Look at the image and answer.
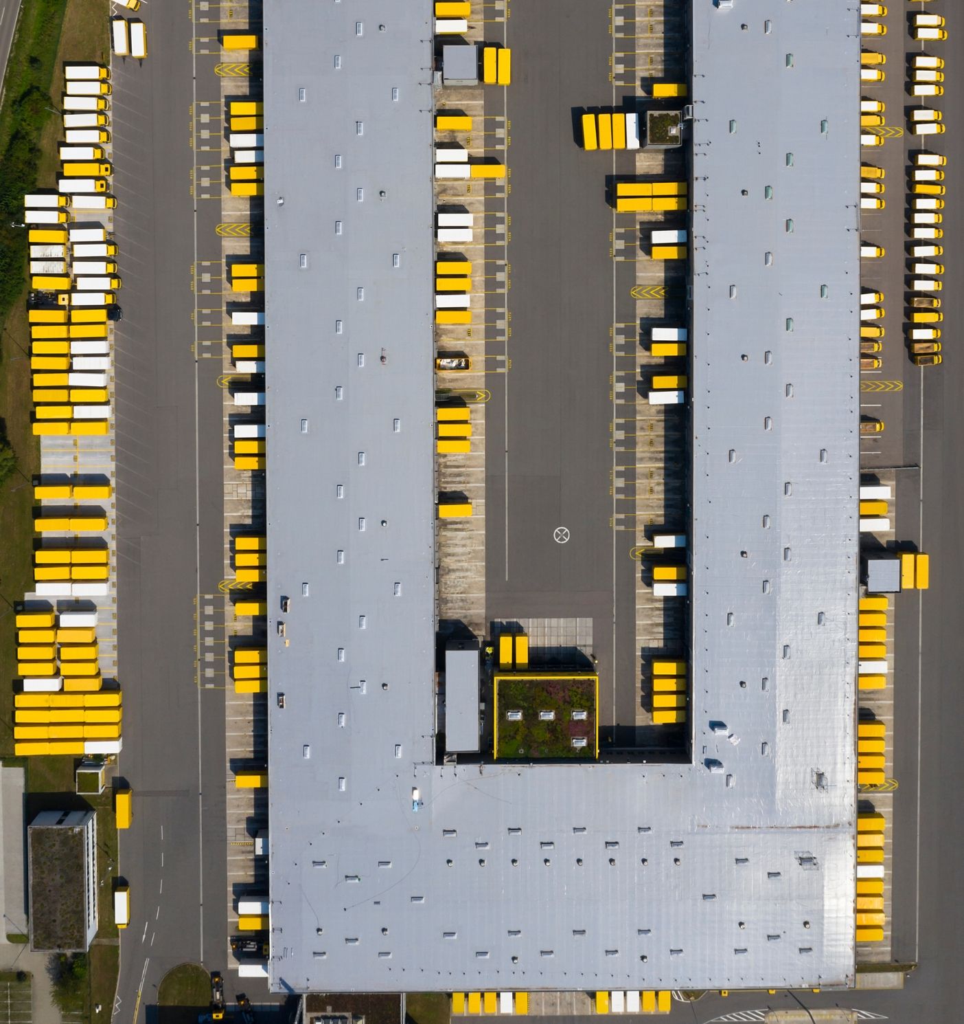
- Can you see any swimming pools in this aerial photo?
No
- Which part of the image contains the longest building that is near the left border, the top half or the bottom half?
bottom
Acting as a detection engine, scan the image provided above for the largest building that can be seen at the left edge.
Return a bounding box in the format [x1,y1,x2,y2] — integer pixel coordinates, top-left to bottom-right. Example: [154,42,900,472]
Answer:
[27,811,98,953]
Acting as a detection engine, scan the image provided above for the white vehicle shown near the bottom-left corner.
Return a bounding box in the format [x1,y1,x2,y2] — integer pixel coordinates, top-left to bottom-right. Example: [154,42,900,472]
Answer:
[115,884,130,931]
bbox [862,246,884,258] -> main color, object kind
white vehicle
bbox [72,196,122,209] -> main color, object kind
white vehicle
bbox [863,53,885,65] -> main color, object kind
yellow vehicle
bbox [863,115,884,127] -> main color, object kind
yellow vehicle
